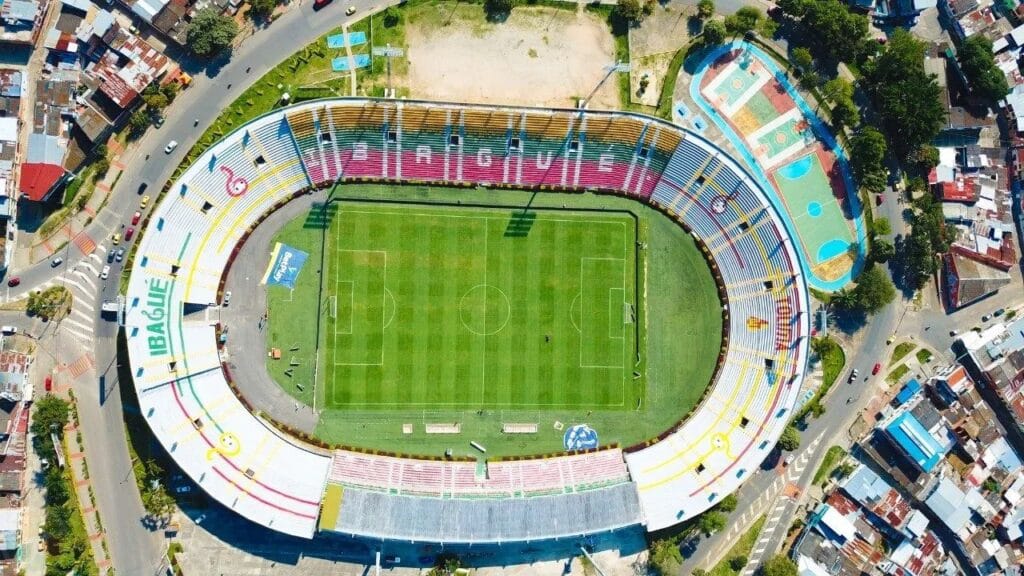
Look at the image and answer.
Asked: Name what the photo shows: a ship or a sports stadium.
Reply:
sports stadium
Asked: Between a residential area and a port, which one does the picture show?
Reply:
residential area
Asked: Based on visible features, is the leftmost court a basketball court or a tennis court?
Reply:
basketball court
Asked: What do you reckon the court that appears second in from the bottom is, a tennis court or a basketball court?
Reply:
basketball court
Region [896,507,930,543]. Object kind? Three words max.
house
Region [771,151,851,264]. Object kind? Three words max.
sports court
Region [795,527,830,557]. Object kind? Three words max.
house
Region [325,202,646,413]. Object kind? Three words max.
soccer field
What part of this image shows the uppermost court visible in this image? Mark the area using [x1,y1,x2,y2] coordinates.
[704,56,770,116]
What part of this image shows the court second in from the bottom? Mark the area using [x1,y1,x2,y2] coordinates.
[745,107,816,173]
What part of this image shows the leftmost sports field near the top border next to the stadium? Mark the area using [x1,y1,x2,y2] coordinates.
[407,9,616,110]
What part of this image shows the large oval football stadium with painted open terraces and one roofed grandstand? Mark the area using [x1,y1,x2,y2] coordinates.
[128,96,811,547]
